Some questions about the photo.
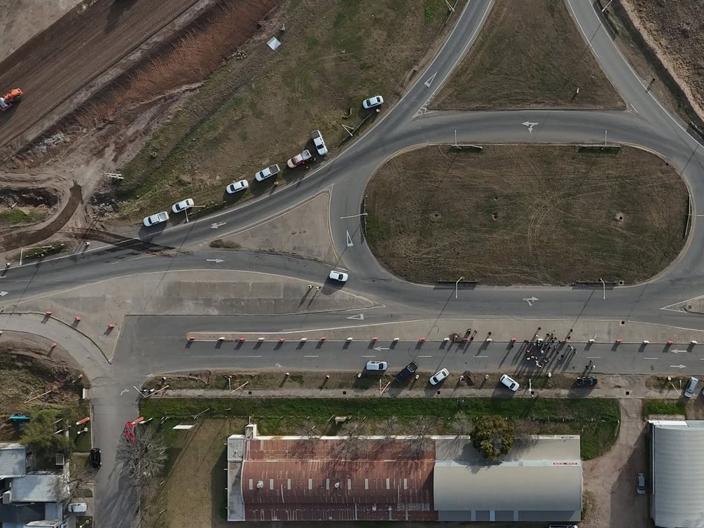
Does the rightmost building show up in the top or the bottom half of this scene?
bottom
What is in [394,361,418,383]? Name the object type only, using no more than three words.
truck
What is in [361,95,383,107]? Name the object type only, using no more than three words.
vehicle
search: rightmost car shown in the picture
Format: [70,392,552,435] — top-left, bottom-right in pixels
[685,377,697,397]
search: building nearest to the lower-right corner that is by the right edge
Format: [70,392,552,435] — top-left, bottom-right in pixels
[644,414,704,528]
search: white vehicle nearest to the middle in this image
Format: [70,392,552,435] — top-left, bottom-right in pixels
[325,271,347,283]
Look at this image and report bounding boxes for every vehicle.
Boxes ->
[123,423,136,443]
[0,89,18,110]
[577,377,598,387]
[498,375,519,391]
[428,368,449,387]
[685,377,697,397]
[86,448,99,469]
[287,149,312,168]
[141,211,166,225]
[253,163,279,181]
[637,474,645,493]
[309,130,326,156]
[361,95,383,107]
[365,361,385,371]
[394,361,418,383]
[226,179,247,193]
[171,198,193,213]
[325,271,347,283]
[66,504,86,515]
